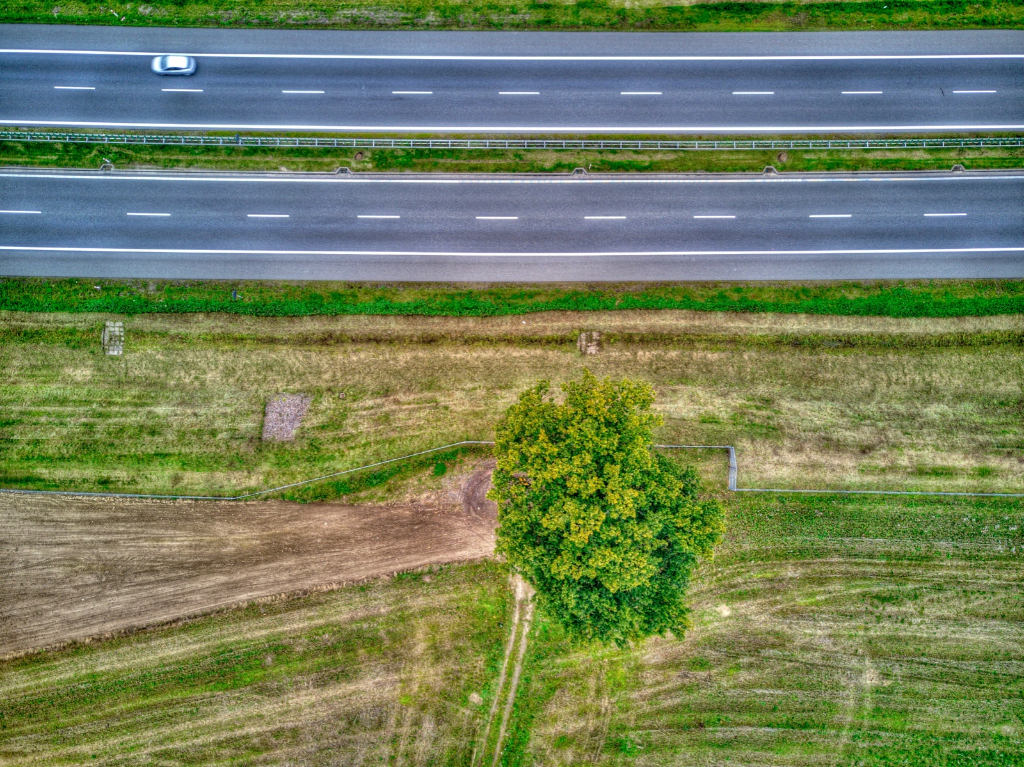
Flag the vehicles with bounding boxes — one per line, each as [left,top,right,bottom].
[152,52,196,76]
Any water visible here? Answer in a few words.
No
